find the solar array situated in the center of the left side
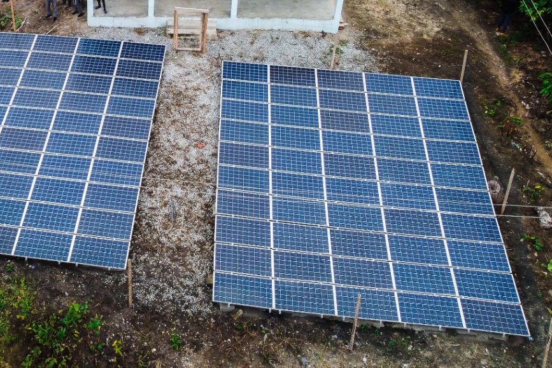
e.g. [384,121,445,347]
[0,32,164,275]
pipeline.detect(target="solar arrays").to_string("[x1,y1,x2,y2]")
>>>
[0,32,164,275]
[212,62,530,344]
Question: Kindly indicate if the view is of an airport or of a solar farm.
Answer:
solar farm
